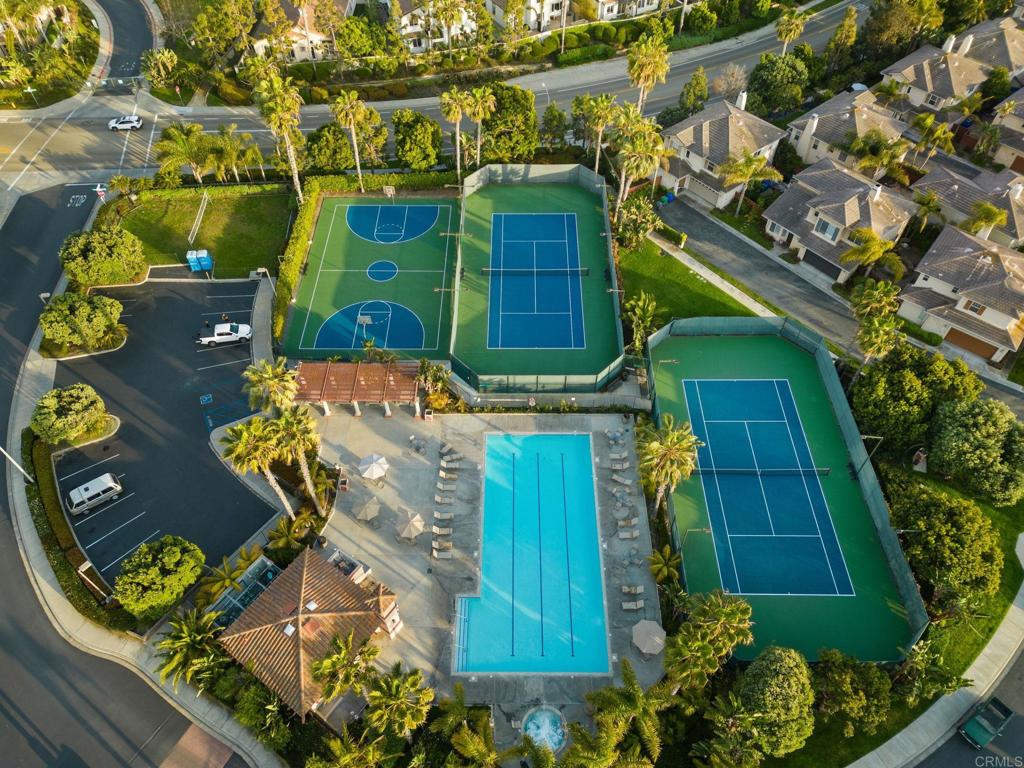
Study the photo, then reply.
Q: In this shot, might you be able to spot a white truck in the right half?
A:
No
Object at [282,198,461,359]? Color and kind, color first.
green basketball court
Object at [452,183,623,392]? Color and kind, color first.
green tennis court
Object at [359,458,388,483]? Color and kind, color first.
white umbrella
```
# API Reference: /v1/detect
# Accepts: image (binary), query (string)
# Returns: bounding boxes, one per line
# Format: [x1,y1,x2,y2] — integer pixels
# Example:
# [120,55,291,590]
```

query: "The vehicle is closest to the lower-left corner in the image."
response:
[64,467,121,510]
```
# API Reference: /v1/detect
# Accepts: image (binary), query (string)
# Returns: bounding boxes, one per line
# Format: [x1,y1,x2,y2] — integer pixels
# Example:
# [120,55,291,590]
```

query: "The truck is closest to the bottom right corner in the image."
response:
[957,693,1018,752]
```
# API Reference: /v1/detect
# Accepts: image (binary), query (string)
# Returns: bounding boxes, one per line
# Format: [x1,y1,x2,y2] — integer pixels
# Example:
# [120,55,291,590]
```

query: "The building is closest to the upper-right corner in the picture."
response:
[960,26,1024,117]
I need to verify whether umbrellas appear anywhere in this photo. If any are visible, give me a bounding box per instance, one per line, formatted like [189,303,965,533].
[629,620,667,658]
[359,458,388,483]
[352,498,382,524]
[395,512,425,539]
